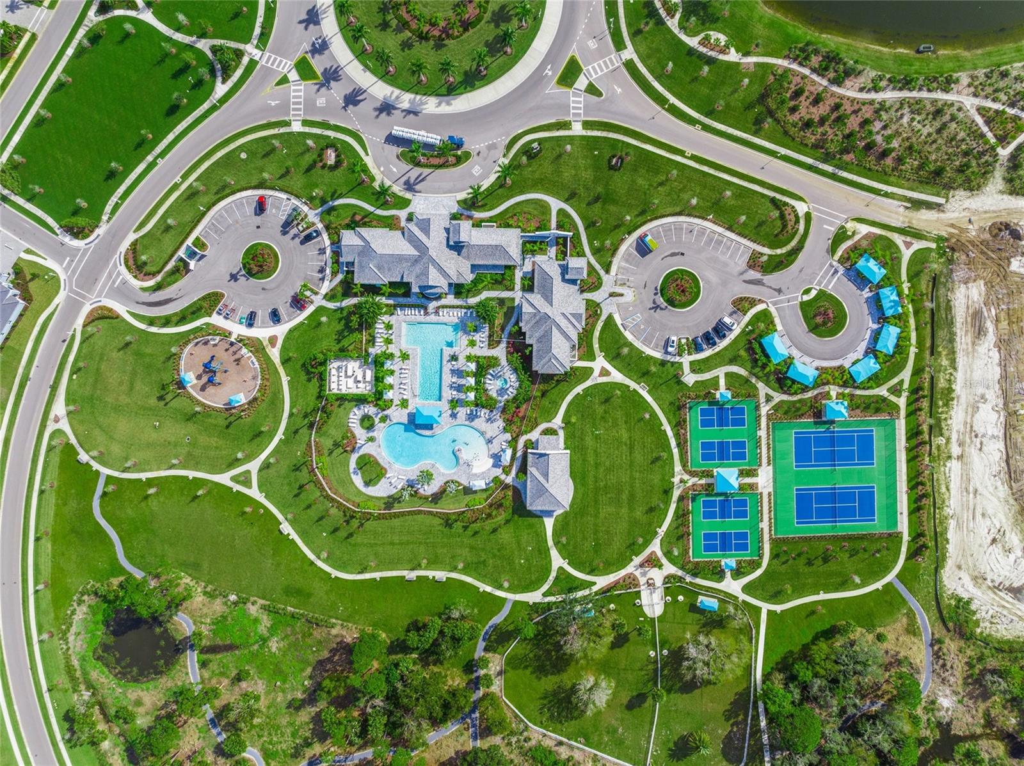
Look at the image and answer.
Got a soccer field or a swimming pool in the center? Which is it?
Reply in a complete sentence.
The feature located in the center is a swimming pool.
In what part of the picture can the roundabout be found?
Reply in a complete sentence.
The roundabout appears toward the top of the photo.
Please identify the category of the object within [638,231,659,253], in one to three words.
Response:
vehicle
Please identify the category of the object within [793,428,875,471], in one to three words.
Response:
tennis court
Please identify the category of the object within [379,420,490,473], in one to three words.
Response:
swimming pool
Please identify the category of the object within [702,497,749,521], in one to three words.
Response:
sports court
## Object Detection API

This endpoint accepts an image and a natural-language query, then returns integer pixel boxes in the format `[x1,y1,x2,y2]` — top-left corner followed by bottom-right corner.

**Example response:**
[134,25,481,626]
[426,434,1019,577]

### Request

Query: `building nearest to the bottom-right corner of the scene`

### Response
[527,435,570,510]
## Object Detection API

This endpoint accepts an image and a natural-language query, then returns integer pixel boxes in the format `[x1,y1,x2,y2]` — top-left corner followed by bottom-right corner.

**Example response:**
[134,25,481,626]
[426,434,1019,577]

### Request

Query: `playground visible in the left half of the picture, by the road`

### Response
[179,335,260,408]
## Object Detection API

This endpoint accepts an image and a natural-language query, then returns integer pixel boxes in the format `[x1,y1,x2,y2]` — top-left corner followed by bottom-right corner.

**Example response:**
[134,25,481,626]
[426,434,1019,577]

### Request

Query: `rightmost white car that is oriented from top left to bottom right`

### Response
[721,316,737,330]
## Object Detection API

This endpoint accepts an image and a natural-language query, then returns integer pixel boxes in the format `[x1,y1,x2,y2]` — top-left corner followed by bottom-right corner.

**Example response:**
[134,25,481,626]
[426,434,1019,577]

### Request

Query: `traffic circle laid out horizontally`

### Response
[319,0,562,111]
